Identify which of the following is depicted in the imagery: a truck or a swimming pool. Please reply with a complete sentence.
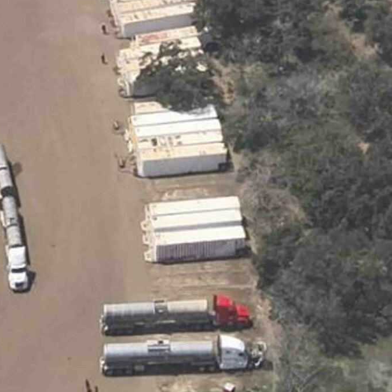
There is a truck in the scene.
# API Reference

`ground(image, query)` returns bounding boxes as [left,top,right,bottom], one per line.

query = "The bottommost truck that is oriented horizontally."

[102,336,262,371]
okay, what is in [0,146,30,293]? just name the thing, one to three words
truck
